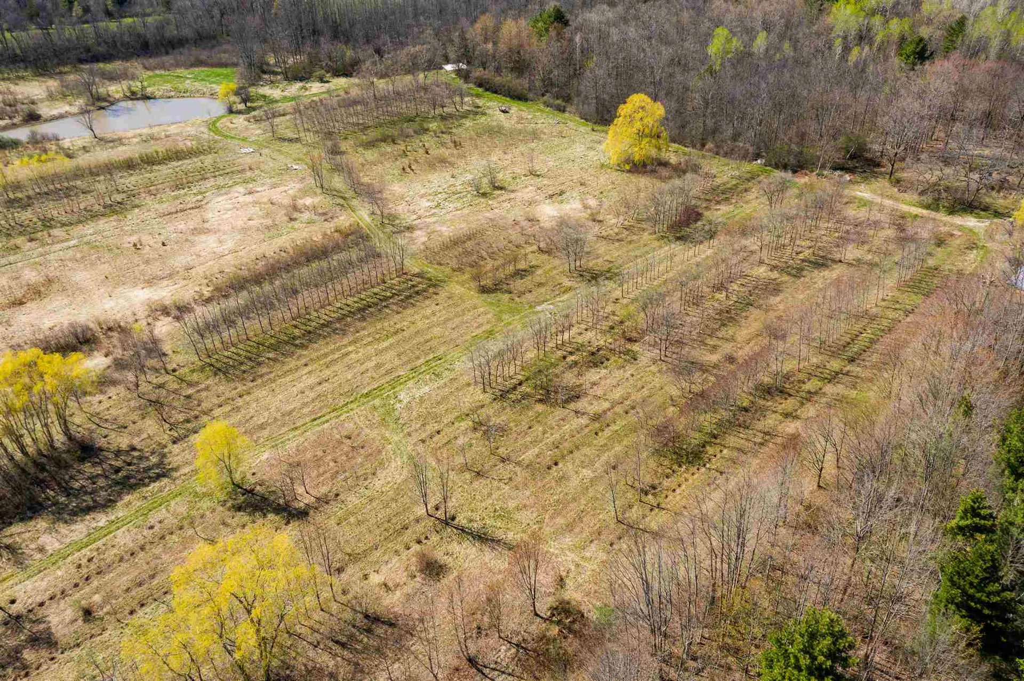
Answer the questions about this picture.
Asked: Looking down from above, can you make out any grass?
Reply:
Yes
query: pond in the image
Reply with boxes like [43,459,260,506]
[0,97,232,142]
